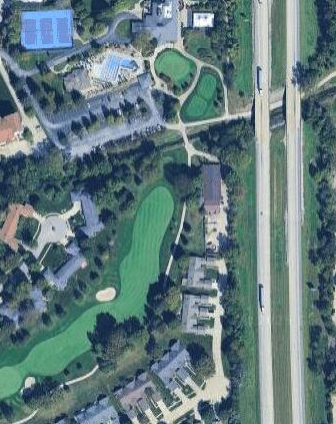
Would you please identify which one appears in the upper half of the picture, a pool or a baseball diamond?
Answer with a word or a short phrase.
pool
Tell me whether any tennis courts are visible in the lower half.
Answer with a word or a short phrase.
No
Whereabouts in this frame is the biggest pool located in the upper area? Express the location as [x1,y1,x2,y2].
[97,55,122,83]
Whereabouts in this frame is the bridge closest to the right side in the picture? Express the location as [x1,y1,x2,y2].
[286,77,302,128]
